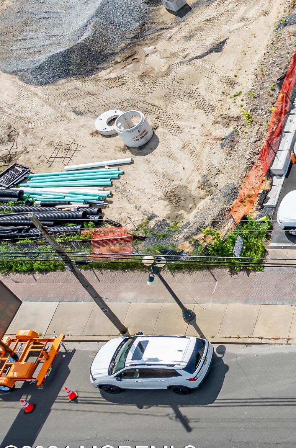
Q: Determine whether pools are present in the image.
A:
No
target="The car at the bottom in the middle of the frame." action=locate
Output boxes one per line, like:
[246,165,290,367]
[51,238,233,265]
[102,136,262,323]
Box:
[85,336,211,399]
